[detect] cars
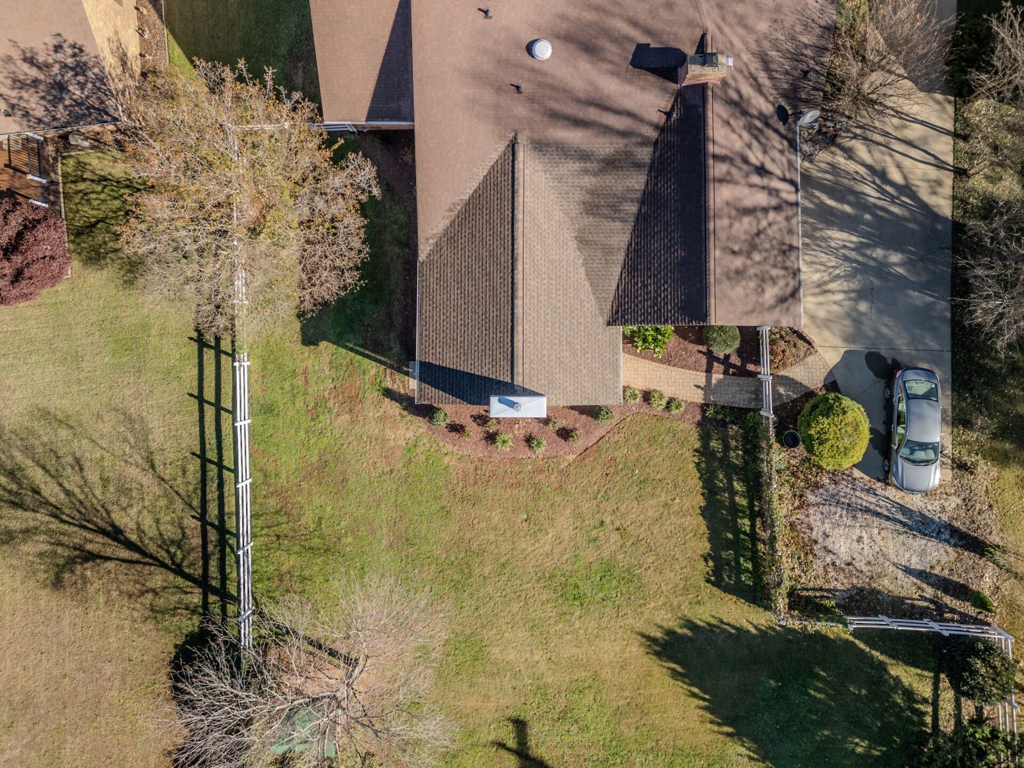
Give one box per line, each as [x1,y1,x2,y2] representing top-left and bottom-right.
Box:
[882,367,951,495]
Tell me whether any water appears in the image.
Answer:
No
